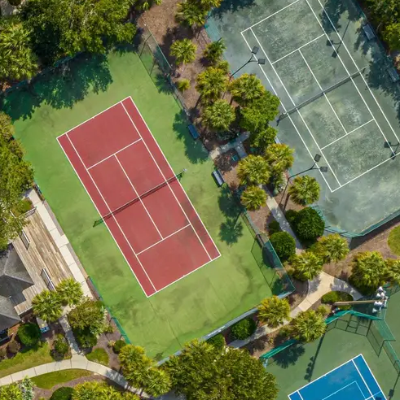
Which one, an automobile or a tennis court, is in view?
tennis court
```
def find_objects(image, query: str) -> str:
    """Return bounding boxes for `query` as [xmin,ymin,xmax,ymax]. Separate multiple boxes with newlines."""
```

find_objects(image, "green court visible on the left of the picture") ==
[0,34,284,364]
